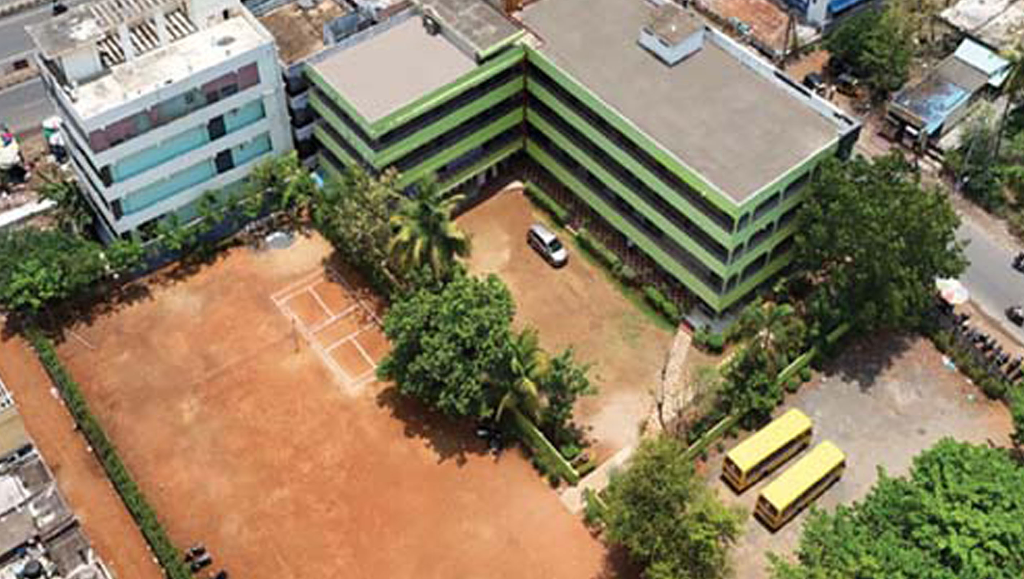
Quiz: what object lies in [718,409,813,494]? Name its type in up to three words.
bus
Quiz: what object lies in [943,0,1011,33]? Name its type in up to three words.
house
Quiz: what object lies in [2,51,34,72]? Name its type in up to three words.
vehicle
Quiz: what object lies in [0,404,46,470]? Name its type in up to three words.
house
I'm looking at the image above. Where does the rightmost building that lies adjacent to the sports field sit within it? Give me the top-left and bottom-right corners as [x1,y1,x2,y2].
[304,0,862,322]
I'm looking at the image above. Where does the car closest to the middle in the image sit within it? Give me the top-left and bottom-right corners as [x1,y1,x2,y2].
[530,224,569,267]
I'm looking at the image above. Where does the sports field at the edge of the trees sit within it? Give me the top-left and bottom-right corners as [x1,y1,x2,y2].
[0,217,617,579]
